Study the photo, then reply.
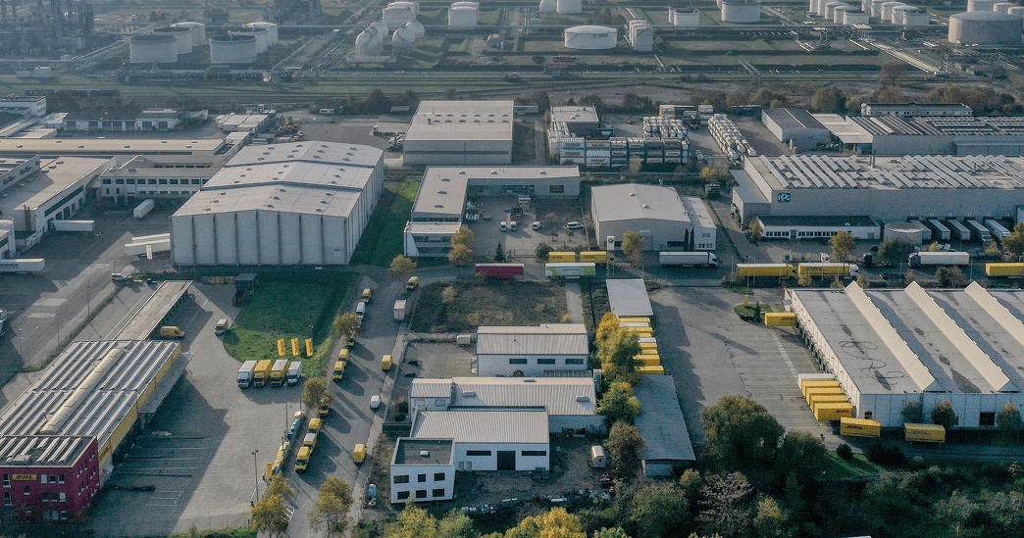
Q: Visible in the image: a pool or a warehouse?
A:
warehouse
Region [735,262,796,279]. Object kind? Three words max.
trailer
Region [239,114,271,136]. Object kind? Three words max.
building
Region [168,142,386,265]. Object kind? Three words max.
warehouse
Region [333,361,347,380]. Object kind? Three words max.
vehicle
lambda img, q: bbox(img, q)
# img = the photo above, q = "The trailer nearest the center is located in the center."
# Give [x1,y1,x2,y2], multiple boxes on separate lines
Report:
[475,261,525,278]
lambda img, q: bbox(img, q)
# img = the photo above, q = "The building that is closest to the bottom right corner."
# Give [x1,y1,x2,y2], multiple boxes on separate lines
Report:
[785,281,1024,429]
